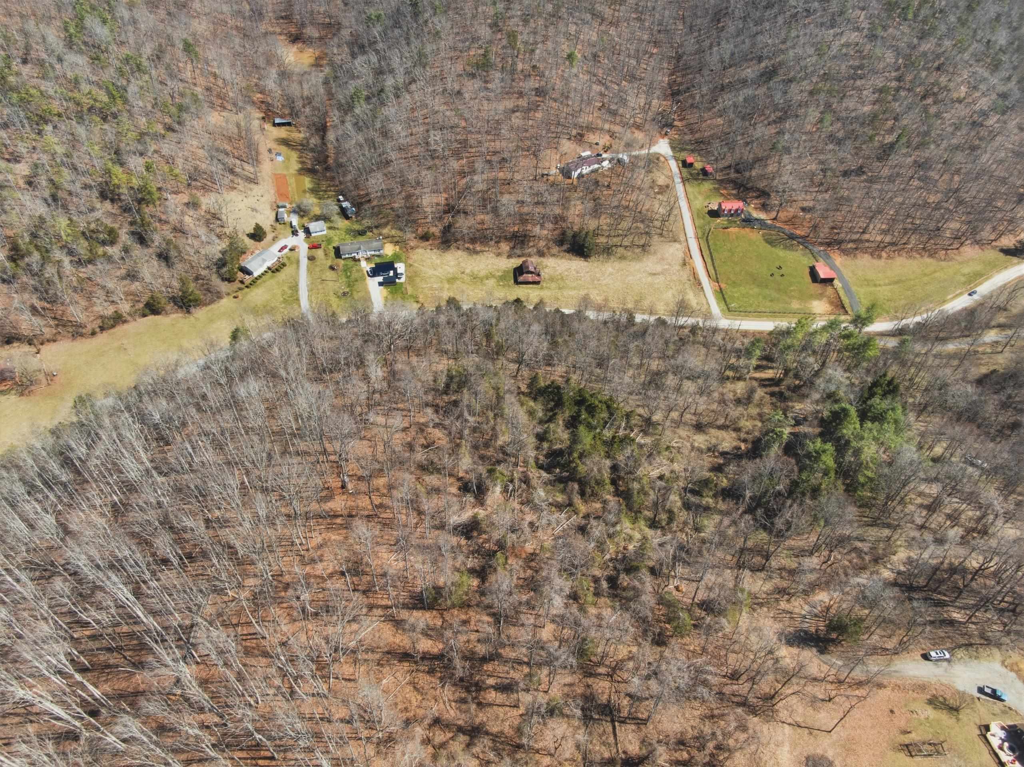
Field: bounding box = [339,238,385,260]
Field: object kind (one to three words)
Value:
house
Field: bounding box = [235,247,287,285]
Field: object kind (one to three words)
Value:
house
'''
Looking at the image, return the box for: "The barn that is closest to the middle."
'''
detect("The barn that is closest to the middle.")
[519,254,541,282]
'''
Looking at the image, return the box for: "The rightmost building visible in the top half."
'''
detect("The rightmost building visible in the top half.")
[810,262,838,283]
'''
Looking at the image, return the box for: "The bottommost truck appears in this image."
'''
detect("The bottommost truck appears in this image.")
[983,681,1015,707]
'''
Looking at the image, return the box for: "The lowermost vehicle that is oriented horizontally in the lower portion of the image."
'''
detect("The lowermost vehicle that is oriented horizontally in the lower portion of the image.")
[927,649,955,662]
